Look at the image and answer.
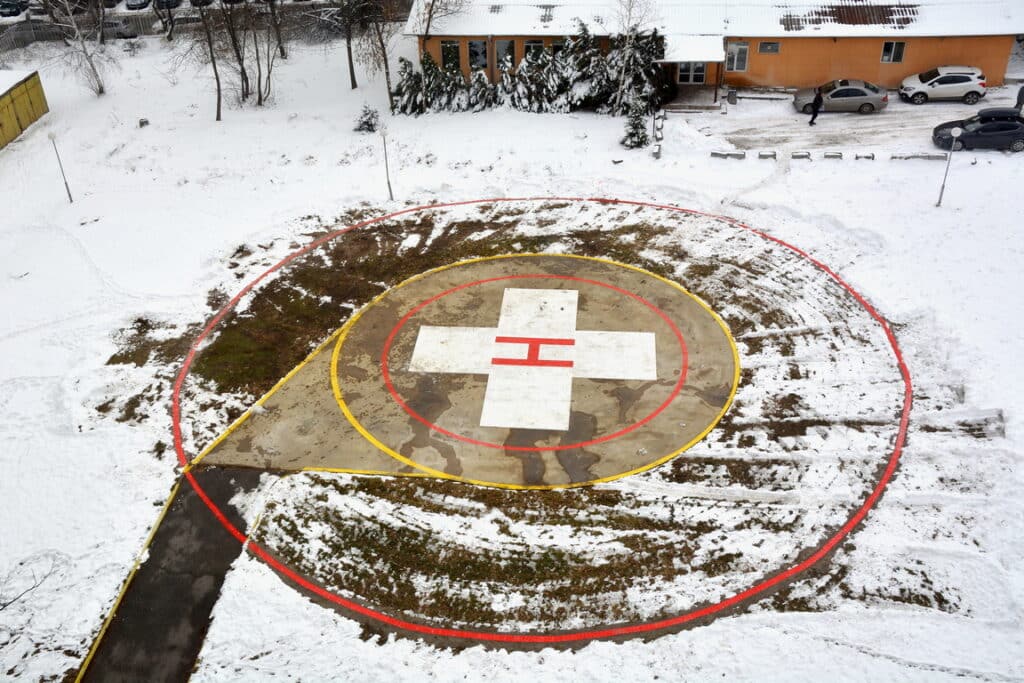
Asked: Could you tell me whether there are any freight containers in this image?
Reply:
No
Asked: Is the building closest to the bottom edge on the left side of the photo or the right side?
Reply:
left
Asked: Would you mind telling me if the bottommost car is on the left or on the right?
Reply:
right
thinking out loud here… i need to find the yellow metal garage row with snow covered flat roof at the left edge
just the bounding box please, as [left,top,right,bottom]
[0,67,49,153]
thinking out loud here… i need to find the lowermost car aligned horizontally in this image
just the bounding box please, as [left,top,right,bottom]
[934,113,1024,151]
